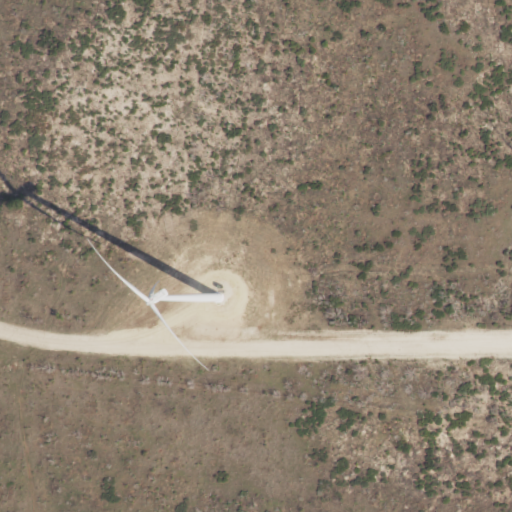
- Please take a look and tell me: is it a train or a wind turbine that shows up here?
wind turbine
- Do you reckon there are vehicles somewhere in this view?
No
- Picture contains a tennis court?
No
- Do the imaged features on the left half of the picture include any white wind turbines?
Yes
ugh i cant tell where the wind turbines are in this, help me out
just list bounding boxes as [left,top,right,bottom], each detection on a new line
[89,240,226,370]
